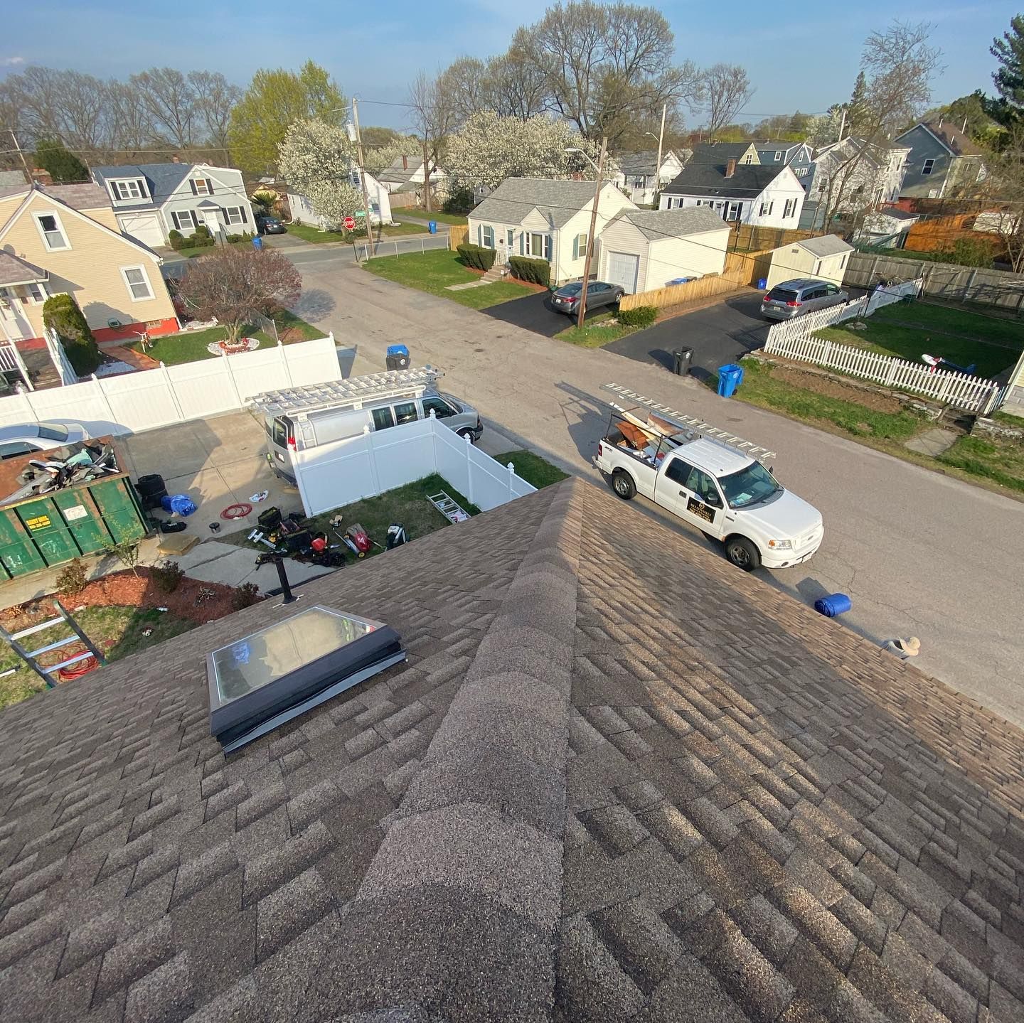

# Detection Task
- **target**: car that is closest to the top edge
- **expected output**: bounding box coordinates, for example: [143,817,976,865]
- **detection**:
[256,214,283,231]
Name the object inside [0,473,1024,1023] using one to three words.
house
